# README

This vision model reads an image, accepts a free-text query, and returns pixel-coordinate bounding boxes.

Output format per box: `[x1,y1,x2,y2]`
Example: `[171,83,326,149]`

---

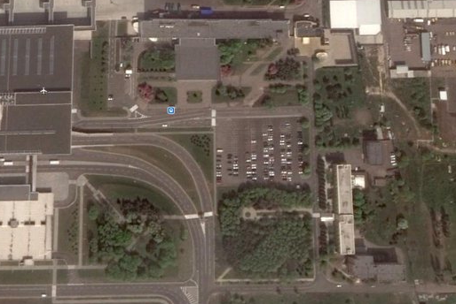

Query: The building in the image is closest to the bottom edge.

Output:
[346,239,405,283]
